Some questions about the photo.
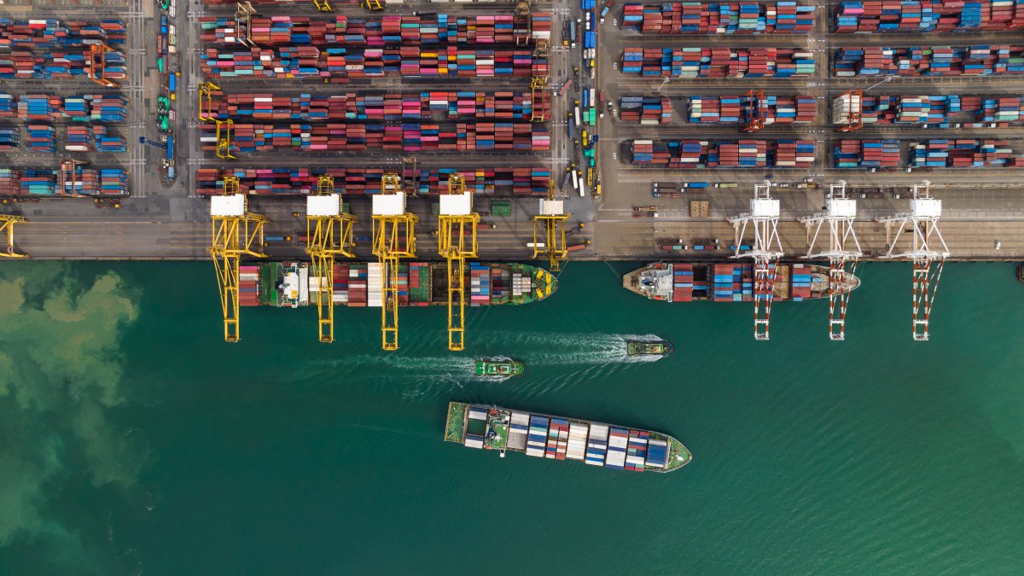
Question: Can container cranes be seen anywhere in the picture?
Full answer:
Yes, there's a container crane down there.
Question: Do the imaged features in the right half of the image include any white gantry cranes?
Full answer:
Yes, in the right half of the image there is a white gantry crane.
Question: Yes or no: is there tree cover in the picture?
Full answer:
No, the picture contains no tree cover.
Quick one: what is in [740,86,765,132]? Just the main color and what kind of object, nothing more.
red container crane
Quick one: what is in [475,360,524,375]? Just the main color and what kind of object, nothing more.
green boat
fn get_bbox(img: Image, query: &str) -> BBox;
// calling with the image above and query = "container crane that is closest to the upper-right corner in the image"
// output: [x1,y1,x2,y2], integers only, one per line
[836,86,865,132]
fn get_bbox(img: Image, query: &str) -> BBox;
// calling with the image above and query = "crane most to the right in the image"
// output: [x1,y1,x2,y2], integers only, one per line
[869,177,952,342]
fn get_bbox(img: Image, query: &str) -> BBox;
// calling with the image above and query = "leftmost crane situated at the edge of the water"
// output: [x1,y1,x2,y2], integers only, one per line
[0,209,34,257]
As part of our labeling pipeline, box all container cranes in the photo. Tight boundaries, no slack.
[836,86,865,132]
[214,119,241,161]
[437,174,483,351]
[869,177,952,342]
[60,158,92,201]
[791,177,863,342]
[400,153,421,199]
[740,86,765,132]
[514,0,532,47]
[532,38,551,83]
[196,78,223,123]
[0,209,34,257]
[721,177,785,342]
[528,77,546,124]
[523,179,571,280]
[371,174,422,351]
[235,1,261,47]
[203,173,275,341]
[303,174,362,341]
